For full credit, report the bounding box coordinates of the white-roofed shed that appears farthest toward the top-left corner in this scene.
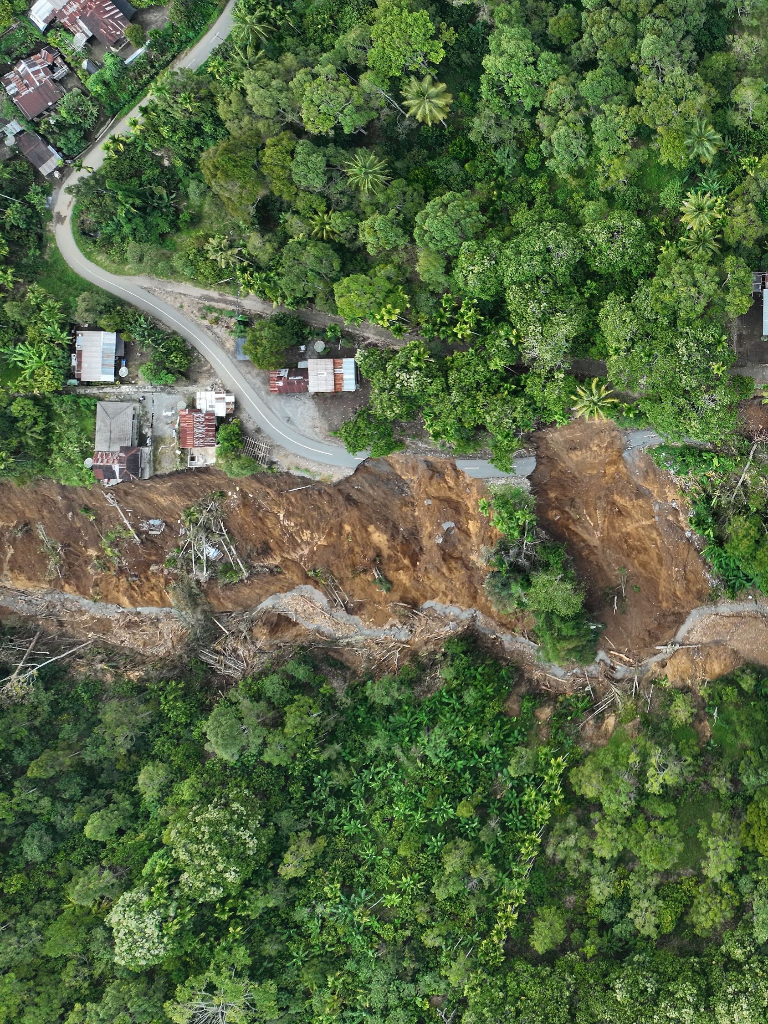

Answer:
[30,0,68,30]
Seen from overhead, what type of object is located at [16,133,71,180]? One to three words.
house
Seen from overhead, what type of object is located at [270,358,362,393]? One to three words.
house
